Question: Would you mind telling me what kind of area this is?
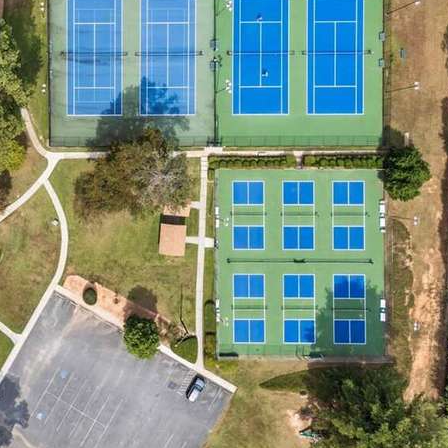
sports ground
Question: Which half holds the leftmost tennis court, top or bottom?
top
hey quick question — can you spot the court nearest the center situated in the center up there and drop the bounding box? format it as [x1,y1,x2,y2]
[216,170,274,262]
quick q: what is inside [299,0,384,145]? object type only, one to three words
tennis court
